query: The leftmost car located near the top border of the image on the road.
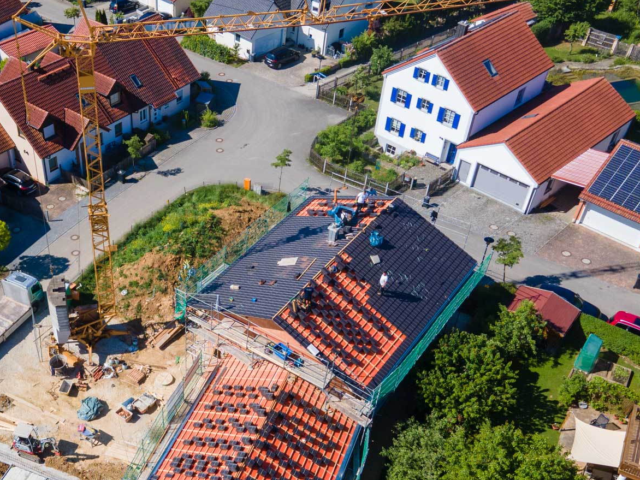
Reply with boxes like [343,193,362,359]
[111,0,139,14]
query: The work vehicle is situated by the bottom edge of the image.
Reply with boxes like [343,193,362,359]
[12,416,71,460]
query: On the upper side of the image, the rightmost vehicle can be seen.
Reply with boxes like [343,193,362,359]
[264,47,299,69]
